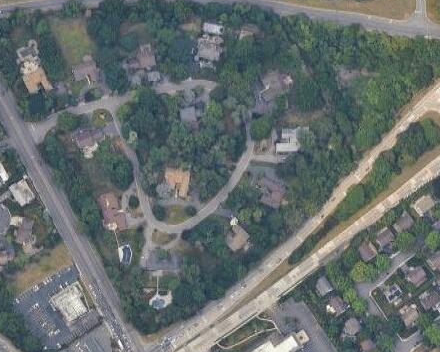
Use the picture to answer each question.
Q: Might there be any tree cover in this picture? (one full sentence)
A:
Yes, there's tree cover in this view.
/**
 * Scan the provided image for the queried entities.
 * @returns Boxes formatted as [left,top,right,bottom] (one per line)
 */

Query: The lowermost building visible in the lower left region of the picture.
[52,283,91,324]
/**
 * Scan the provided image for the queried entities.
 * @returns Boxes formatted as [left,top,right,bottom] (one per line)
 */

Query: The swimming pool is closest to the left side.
[119,244,133,264]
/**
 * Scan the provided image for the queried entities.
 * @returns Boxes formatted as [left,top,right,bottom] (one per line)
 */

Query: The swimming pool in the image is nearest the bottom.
[148,291,173,309]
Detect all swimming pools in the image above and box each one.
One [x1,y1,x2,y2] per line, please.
[148,291,173,309]
[119,244,133,264]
